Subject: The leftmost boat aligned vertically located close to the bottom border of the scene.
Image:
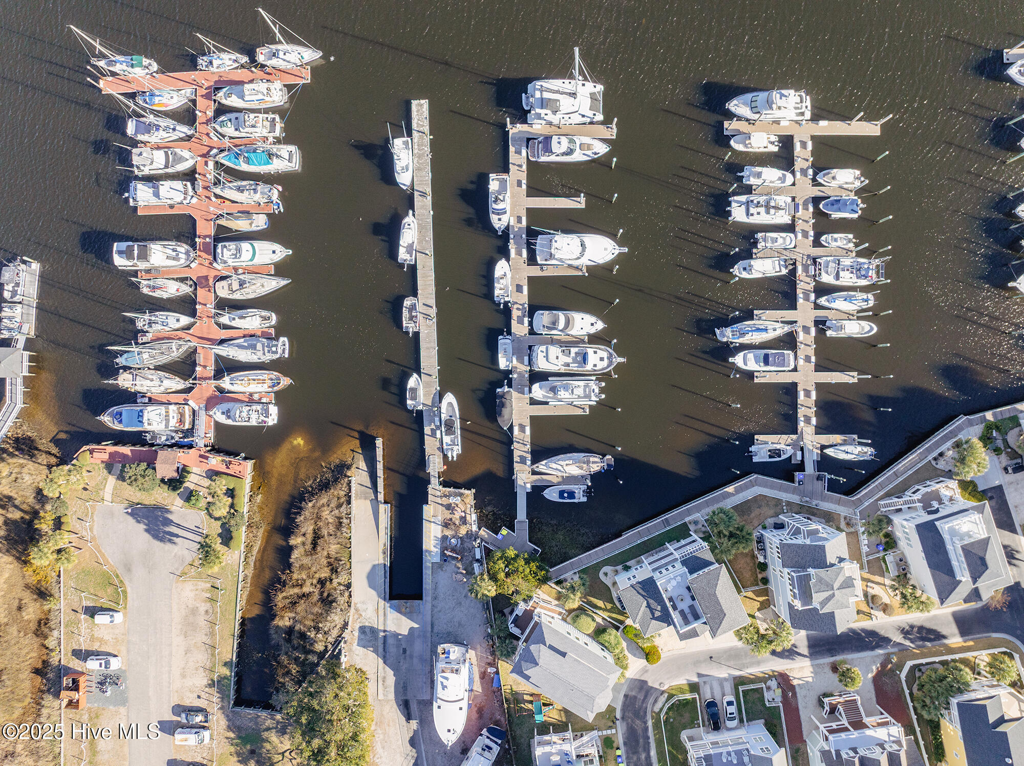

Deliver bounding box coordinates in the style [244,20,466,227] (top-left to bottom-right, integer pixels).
[432,638,471,752]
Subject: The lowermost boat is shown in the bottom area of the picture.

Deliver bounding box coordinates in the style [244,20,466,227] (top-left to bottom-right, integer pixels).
[464,723,508,766]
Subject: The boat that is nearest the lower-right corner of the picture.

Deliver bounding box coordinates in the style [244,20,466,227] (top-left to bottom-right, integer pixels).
[821,444,883,462]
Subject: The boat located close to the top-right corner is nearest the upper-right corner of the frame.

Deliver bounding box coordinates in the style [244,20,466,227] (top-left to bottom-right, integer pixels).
[1000,65,1024,88]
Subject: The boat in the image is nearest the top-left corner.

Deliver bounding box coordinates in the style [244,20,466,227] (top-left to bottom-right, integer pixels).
[88,26,161,74]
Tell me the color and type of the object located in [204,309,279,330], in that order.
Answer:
white boat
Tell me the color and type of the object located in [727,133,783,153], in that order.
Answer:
white boat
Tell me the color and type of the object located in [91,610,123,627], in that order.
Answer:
white car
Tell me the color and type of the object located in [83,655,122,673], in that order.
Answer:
white car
